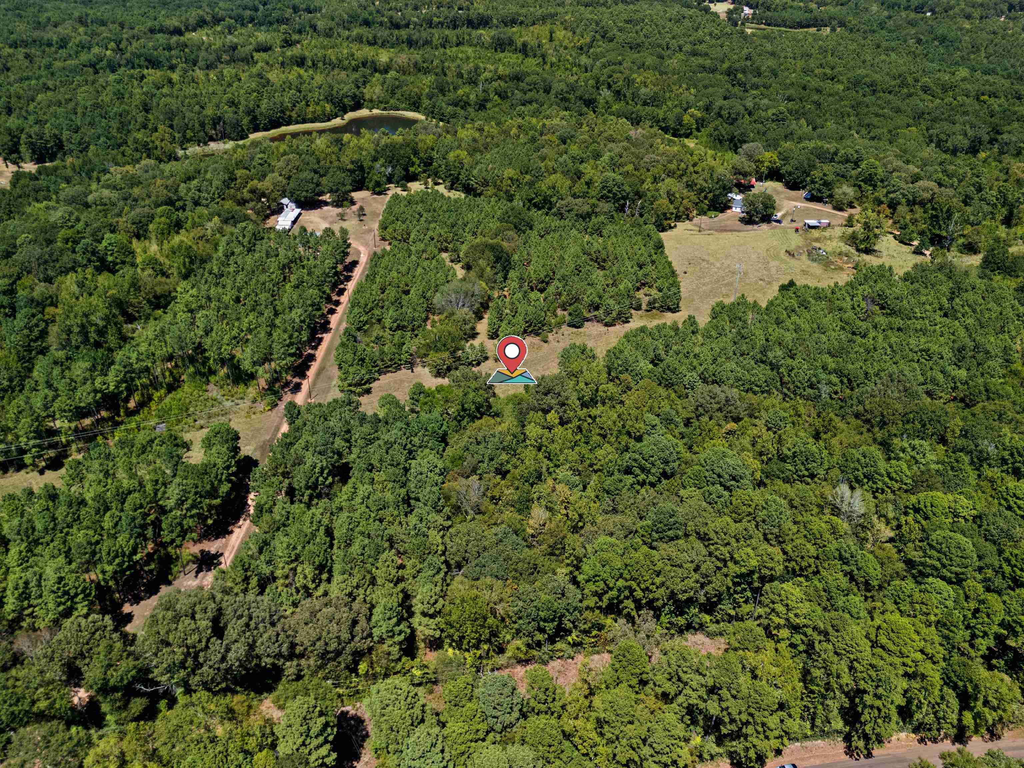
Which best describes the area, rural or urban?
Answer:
rural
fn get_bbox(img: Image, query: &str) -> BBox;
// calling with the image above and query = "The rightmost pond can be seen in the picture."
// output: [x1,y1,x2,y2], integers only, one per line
[260,115,425,147]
